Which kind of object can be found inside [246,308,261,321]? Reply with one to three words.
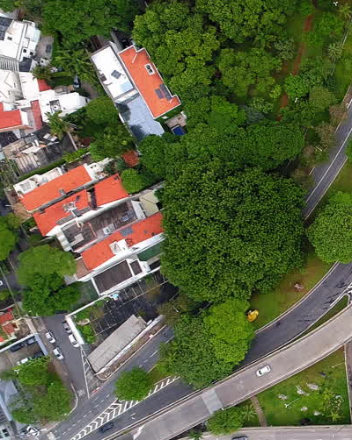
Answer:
vehicle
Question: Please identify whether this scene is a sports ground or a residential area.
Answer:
residential area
